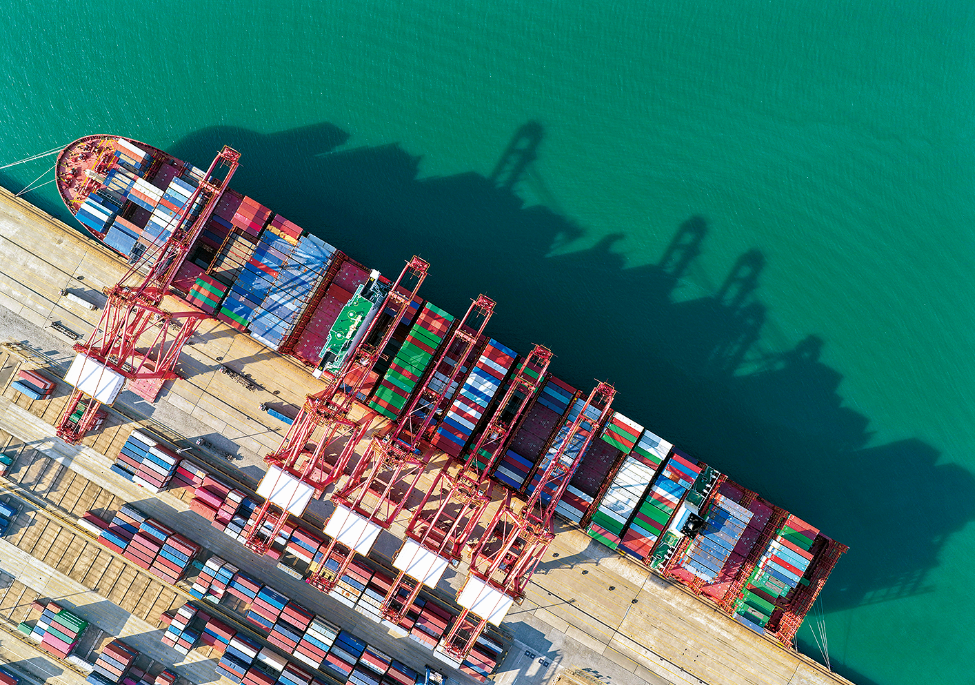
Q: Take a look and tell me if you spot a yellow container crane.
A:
No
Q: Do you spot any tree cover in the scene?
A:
No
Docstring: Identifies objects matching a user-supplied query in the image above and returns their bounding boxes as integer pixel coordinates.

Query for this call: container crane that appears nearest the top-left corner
[52,140,241,437]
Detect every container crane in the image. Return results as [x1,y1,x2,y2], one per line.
[376,341,554,622]
[308,288,498,590]
[52,140,241,437]
[439,379,617,659]
[243,252,432,552]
